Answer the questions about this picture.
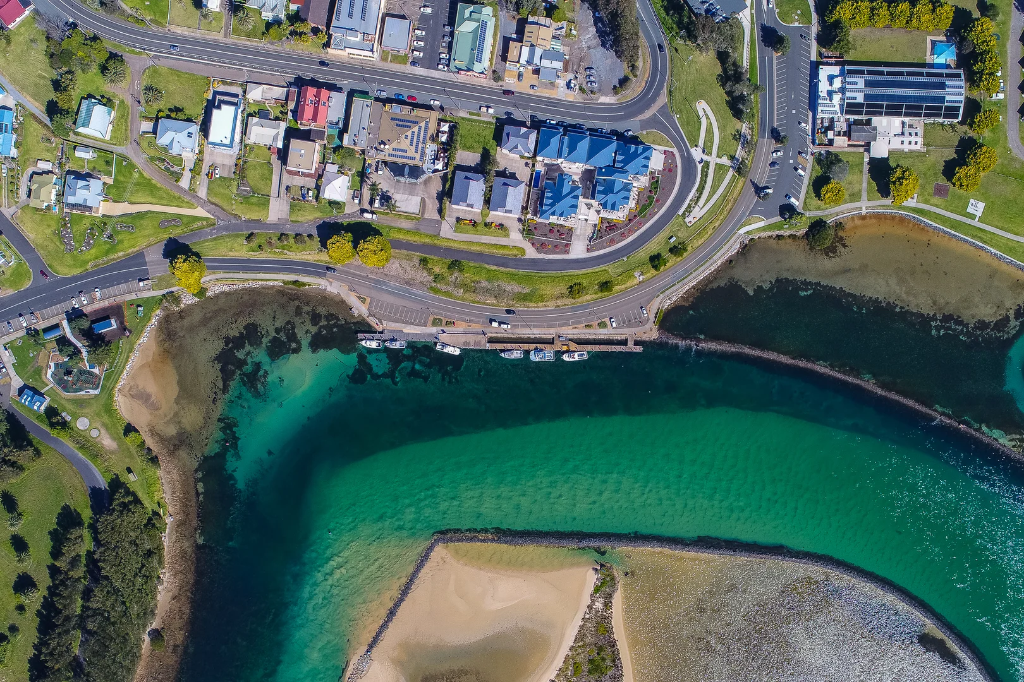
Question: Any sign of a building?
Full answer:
Yes, a building is visible in the scene.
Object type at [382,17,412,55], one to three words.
building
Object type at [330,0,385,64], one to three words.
building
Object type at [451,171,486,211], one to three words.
house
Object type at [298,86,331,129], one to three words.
house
